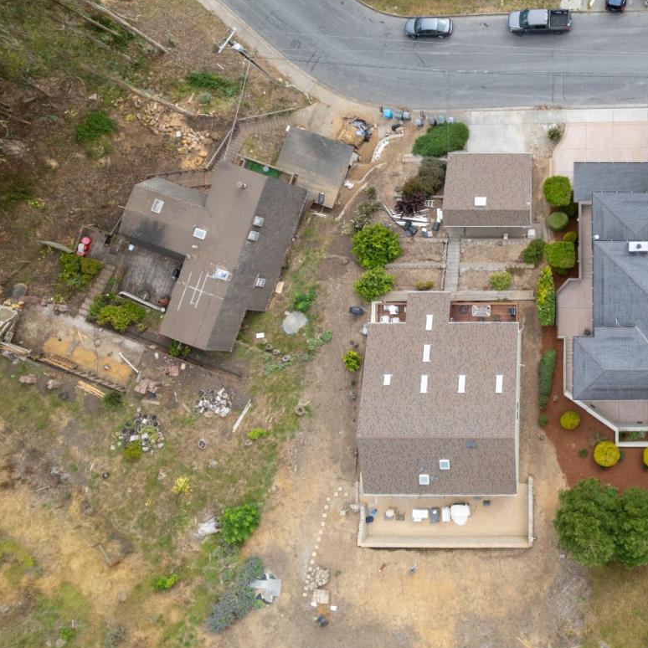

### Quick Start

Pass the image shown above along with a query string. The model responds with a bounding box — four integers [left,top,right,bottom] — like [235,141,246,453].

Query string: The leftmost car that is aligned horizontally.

[404,13,452,38]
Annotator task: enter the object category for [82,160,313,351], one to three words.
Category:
house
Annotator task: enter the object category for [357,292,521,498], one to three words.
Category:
house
